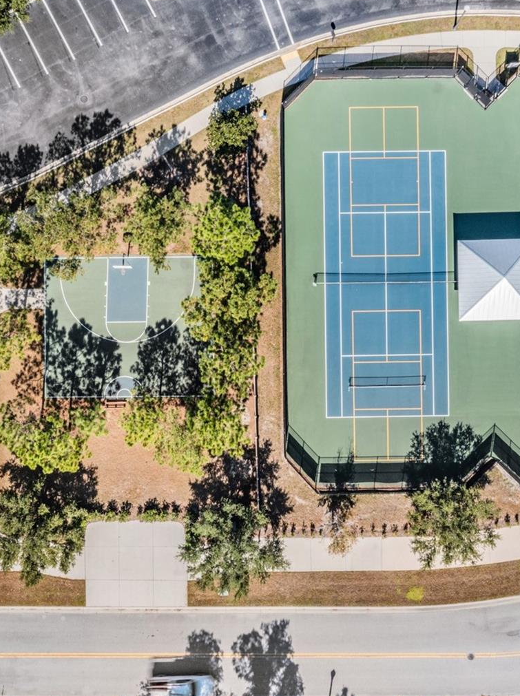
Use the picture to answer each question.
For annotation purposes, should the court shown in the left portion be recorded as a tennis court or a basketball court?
basketball court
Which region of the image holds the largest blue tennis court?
right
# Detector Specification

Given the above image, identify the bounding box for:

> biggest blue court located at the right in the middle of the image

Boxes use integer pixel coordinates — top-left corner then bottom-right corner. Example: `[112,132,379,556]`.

[323,150,449,418]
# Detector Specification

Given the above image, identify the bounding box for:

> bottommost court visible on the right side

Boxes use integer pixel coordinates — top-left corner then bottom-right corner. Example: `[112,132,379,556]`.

[352,310,423,460]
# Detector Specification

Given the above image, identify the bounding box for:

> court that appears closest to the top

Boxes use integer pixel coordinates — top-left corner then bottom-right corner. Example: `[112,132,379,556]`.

[349,106,421,256]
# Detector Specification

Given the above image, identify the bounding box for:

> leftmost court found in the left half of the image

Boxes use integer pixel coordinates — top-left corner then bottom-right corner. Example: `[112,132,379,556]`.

[44,254,212,398]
